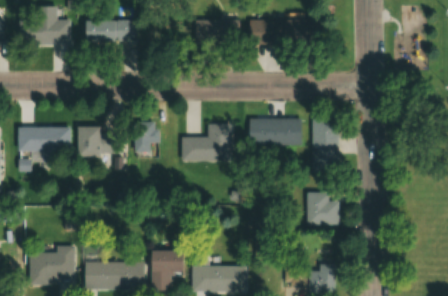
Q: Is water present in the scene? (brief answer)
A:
No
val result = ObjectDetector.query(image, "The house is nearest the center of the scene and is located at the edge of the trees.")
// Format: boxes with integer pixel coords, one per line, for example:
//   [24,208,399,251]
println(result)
[182,124,232,162]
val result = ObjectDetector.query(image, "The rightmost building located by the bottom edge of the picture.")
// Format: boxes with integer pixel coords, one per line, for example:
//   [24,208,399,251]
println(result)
[309,264,336,294]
